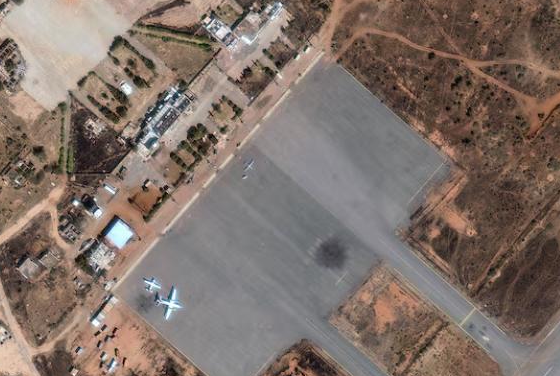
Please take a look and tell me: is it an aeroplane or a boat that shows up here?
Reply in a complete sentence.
It is an aeroplane that can be seen here.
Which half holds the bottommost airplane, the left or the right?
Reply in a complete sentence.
It is on the left.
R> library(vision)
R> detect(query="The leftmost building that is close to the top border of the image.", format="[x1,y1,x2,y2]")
[200,16,238,48]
